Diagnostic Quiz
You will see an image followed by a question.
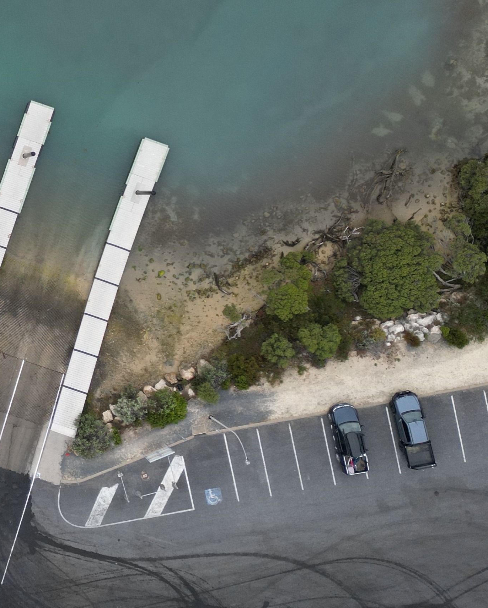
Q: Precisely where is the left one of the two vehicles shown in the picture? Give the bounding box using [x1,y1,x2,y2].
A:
[327,403,375,478]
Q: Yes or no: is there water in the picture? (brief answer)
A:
Yes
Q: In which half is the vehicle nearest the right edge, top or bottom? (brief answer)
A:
bottom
